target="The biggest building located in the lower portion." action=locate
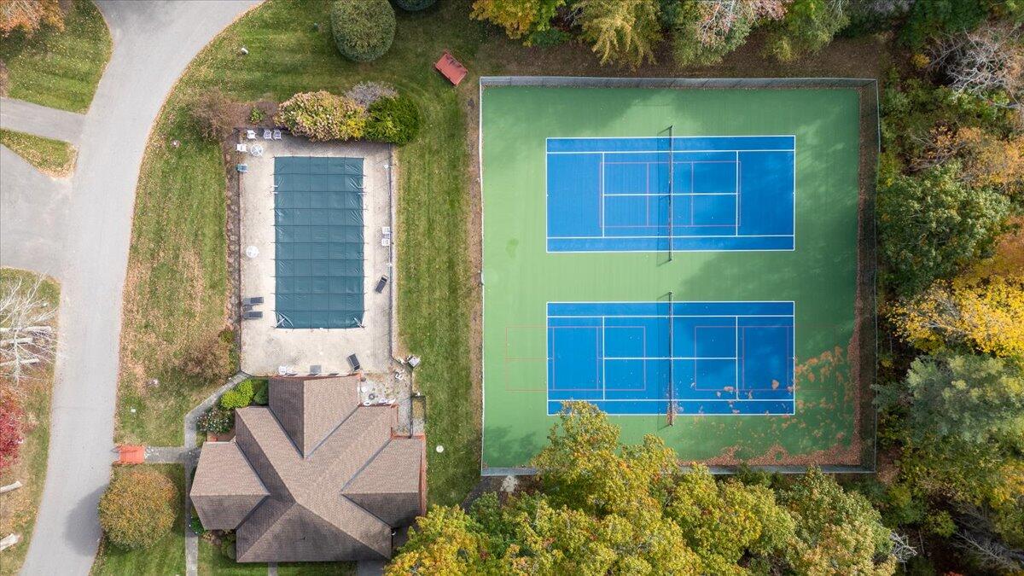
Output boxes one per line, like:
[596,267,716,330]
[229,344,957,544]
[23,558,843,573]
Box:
[190,372,425,562]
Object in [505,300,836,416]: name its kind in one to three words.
tennis court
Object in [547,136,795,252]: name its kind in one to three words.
tennis court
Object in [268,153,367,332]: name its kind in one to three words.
swimming pool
